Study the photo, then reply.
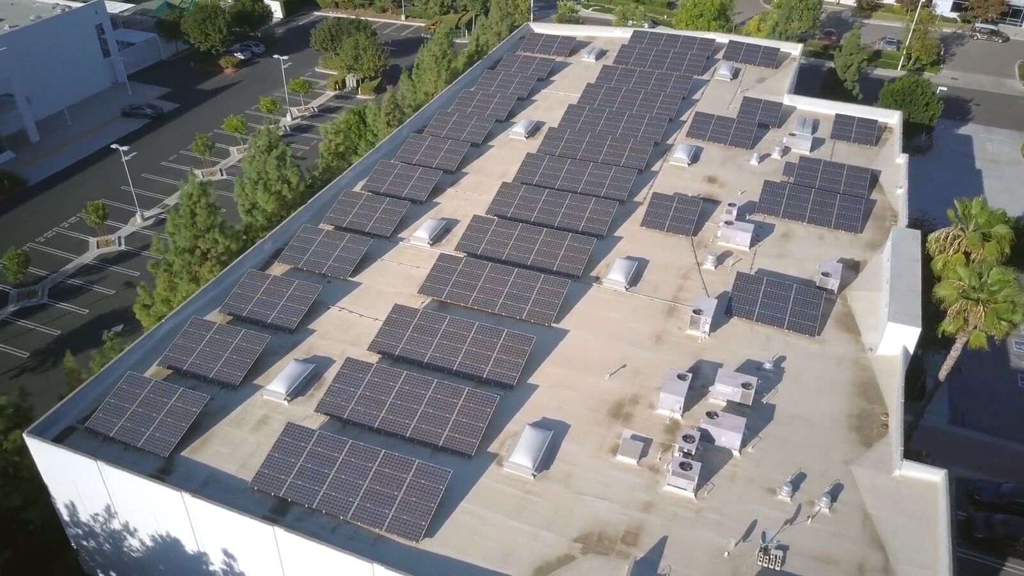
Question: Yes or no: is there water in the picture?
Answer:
No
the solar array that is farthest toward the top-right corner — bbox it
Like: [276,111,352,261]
[830,114,878,148]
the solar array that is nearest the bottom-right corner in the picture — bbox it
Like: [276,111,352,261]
[727,270,825,335]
